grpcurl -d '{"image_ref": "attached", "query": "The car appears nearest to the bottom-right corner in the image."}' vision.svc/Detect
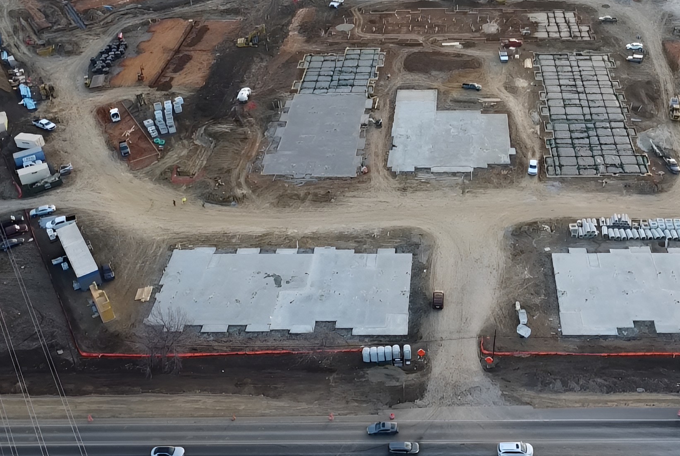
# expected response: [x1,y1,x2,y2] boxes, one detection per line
[497,439,533,456]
